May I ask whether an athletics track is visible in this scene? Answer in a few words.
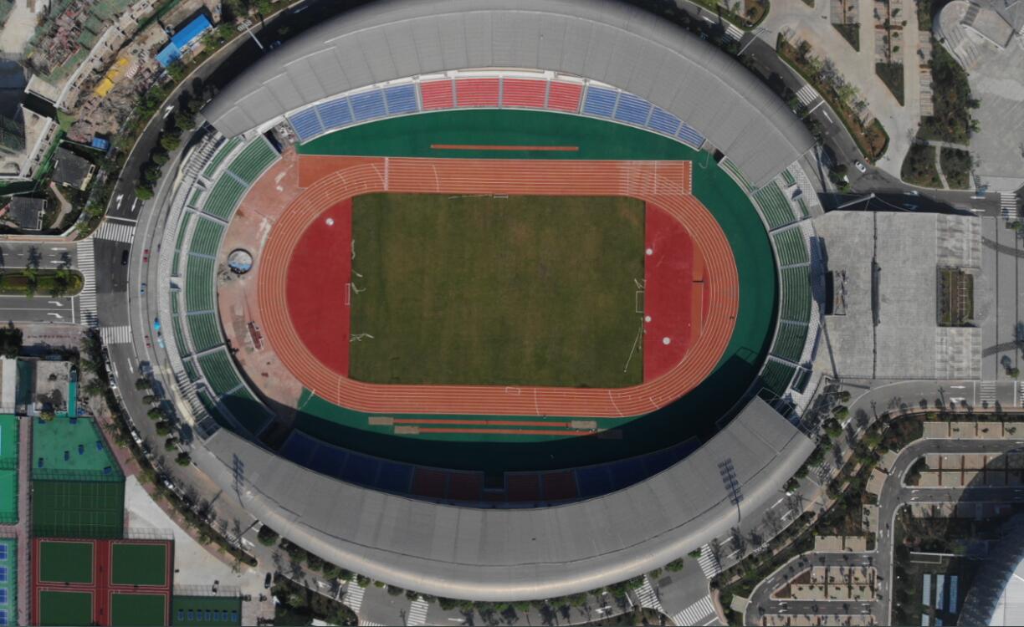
Yes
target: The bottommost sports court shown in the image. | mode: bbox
[174,597,240,627]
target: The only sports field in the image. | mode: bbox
[351,194,645,386]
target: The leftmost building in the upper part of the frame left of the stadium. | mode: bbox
[9,197,54,230]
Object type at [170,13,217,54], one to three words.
shed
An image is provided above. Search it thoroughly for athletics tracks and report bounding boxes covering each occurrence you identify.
[257,110,777,471]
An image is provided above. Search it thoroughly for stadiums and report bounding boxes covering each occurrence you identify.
[155,0,835,601]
